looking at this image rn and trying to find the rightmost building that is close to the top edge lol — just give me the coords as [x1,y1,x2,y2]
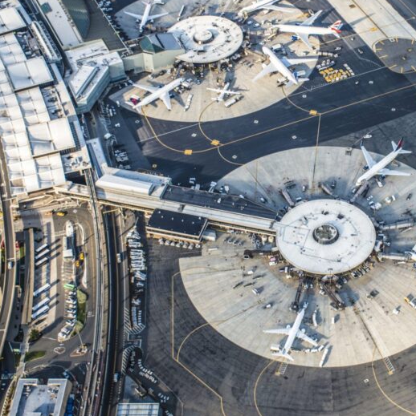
[169,17,245,69]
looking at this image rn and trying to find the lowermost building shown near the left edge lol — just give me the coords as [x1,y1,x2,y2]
[12,380,70,416]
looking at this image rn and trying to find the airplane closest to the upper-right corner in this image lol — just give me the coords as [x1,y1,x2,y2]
[274,11,341,51]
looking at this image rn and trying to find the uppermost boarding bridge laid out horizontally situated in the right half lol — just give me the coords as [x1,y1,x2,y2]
[243,26,274,38]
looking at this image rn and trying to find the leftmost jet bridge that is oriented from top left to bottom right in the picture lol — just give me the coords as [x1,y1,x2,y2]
[278,185,298,209]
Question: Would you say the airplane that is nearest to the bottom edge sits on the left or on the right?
right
